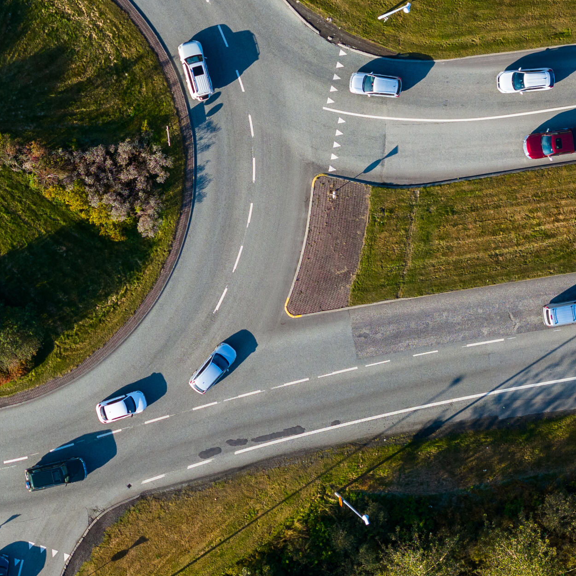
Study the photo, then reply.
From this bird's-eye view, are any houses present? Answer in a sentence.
No, no house can be seen from above.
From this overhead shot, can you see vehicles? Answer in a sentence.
Yes, a vehicle can be made out from above.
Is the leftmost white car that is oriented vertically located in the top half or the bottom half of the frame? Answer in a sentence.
Seen from above, the leftmost white car that is oriented vertically lies in the top half of the view.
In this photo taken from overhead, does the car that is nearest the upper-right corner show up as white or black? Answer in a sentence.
From above, the car that is nearest the upper-right corner appears white.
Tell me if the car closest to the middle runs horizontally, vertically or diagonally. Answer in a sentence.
The car closest to the middle is oriented diagonally.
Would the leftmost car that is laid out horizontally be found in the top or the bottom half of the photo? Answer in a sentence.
The leftmost car that is laid out horizontally sits in the bottom half of the picture.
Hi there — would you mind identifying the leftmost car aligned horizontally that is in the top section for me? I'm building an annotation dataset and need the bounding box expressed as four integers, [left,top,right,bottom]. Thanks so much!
[348,70,404,98]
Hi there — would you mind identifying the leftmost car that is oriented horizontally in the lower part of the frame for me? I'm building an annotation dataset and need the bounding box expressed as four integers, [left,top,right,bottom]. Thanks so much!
[26,459,87,491]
